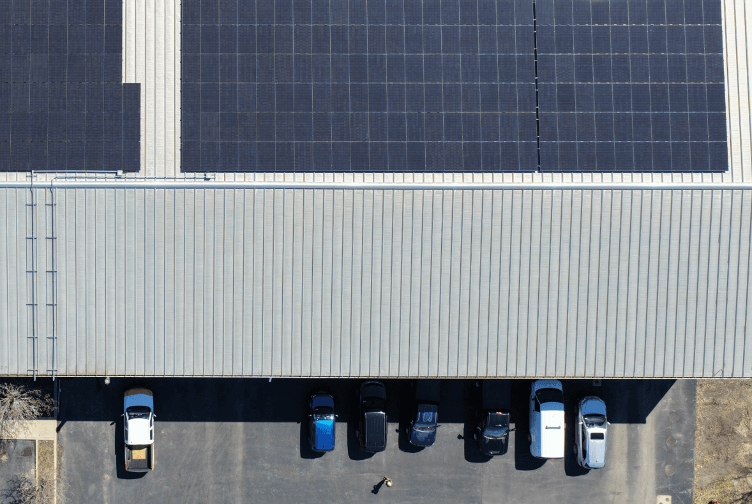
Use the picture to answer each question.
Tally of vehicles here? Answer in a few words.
seven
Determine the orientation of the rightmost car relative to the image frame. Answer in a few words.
vertically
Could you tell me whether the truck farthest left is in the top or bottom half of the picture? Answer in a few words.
bottom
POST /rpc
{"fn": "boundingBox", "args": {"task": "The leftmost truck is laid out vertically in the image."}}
[120,386,156,472]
